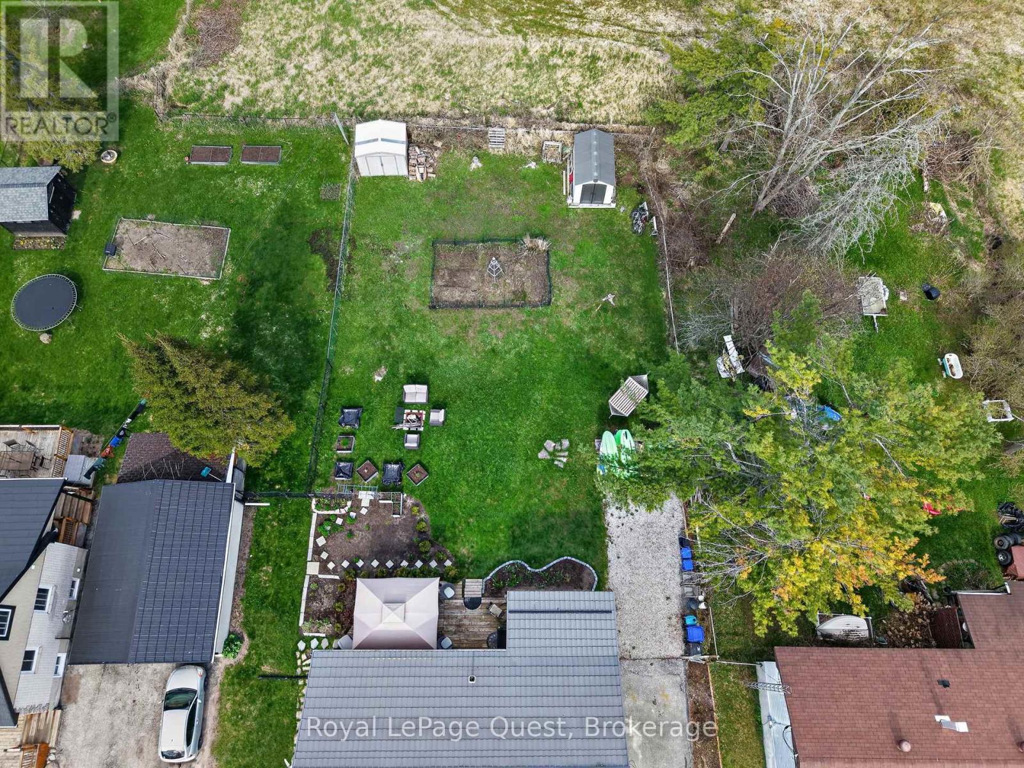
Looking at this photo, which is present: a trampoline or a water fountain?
trampoline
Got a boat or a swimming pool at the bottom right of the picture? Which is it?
boat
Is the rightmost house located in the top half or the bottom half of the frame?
bottom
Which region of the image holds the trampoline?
left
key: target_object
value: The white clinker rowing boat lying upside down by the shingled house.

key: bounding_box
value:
[814,611,870,641]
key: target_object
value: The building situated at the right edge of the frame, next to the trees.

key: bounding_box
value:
[756,581,1024,768]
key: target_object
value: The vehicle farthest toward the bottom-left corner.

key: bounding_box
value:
[156,663,212,766]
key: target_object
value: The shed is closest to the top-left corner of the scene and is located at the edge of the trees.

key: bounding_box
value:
[0,165,78,237]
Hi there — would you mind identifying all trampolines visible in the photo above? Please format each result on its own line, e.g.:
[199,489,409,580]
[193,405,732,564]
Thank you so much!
[8,272,89,342]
